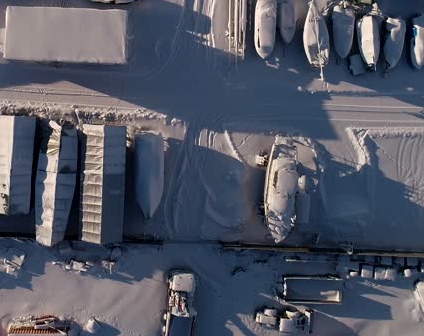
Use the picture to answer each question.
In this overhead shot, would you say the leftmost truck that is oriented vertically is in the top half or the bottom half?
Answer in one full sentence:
Seen from above, the leftmost truck that is oriented vertically lies in the bottom half of the view.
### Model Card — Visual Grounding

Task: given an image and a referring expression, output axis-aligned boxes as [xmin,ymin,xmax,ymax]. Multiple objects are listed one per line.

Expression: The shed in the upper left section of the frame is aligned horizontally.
[4,5,128,66]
